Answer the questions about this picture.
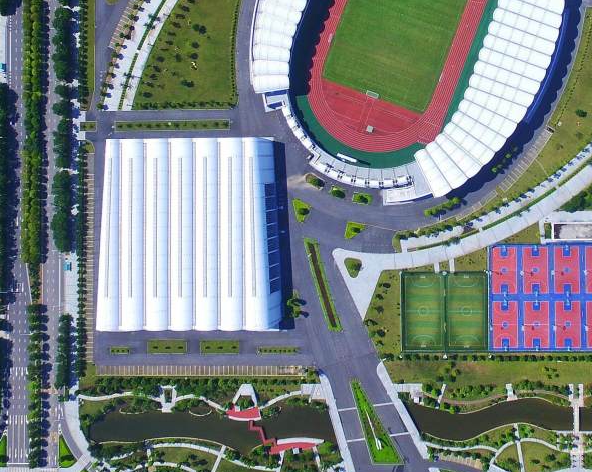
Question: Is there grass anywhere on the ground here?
Yes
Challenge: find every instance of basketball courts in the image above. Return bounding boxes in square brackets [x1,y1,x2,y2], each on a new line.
[523,301,548,348]
[493,301,516,348]
[584,248,592,294]
[584,301,592,348]
[493,248,516,294]
[554,301,580,348]
[523,248,548,294]
[554,248,580,294]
